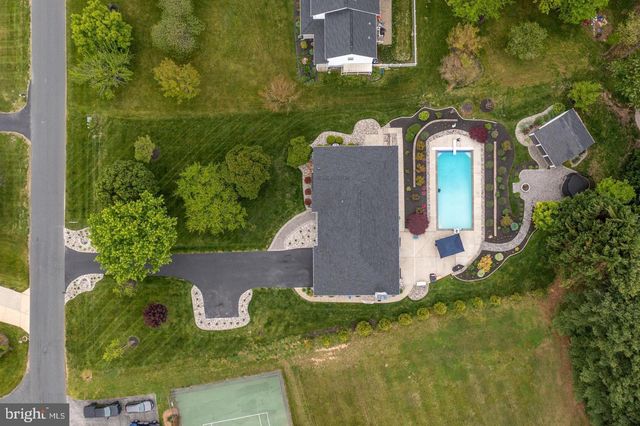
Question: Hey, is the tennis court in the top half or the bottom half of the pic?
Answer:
bottom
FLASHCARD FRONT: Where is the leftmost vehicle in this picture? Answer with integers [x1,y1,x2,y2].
[83,402,121,419]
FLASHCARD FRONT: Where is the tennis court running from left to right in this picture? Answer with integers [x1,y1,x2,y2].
[171,370,291,426]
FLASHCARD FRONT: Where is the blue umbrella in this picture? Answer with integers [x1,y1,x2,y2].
[435,234,464,258]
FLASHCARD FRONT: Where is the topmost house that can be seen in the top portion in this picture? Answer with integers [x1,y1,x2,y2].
[301,0,378,79]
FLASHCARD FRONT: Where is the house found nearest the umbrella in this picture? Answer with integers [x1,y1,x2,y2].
[312,145,400,302]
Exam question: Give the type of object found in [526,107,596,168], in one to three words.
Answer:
building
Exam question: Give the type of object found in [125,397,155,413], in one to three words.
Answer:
car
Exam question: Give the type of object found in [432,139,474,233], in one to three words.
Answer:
swimming pool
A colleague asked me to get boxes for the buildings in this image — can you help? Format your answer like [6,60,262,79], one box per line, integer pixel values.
[312,145,400,302]
[301,0,378,79]
[526,107,596,168]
